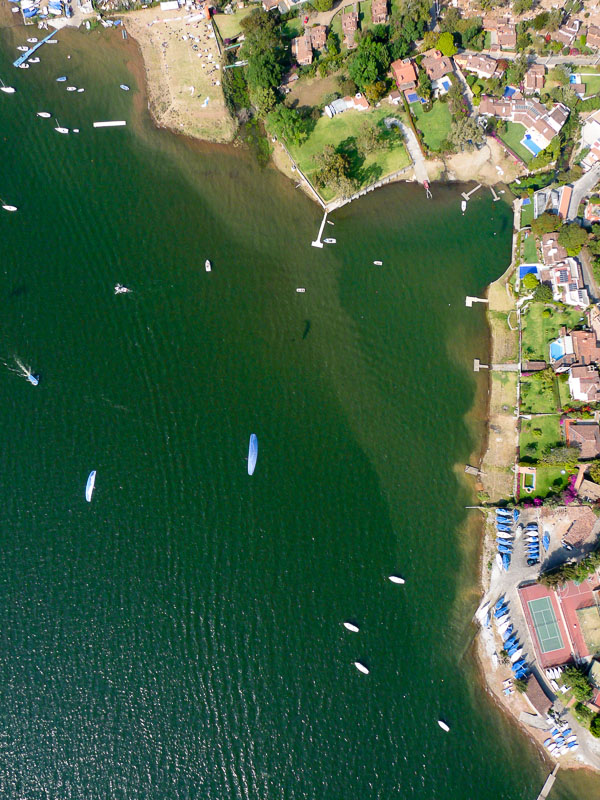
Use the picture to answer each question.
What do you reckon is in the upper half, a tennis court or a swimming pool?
swimming pool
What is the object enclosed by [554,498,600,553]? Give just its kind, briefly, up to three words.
building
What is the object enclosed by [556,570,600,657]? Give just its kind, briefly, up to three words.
basketball court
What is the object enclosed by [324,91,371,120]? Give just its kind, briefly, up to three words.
house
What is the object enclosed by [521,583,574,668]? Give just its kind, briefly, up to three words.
tennis court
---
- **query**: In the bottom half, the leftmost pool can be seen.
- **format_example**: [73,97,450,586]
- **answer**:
[519,467,536,493]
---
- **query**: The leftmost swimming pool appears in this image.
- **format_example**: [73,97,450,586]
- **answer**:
[405,89,427,104]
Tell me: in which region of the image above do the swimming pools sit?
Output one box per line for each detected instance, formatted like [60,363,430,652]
[519,467,536,493]
[520,127,550,157]
[549,337,566,362]
[405,89,427,104]
[441,77,452,92]
[516,264,541,284]
[569,73,581,84]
